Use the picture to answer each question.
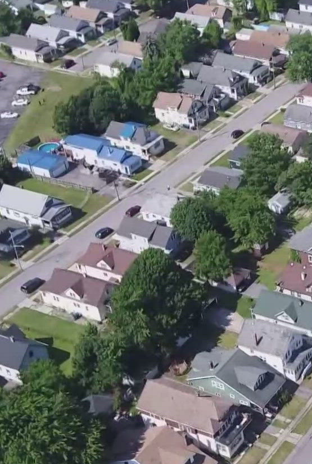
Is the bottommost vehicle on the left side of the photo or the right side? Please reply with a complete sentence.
It is on the left.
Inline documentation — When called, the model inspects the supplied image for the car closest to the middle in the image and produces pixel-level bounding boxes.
[122,201,143,218]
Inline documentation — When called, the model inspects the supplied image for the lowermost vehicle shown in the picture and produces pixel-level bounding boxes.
[19,274,45,295]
